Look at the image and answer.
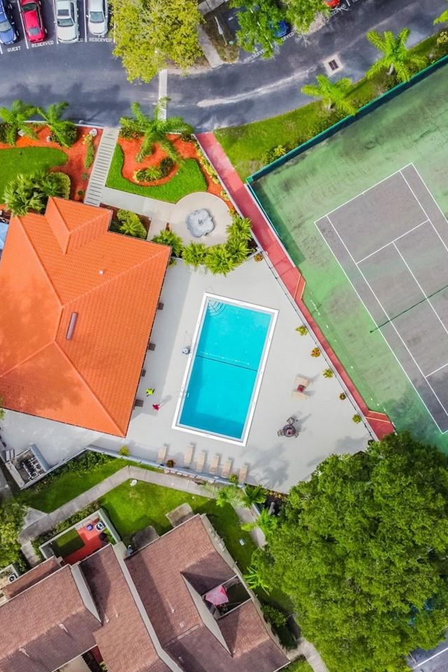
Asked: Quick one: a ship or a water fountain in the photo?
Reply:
water fountain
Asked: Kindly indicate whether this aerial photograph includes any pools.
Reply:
Yes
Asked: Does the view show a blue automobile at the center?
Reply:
No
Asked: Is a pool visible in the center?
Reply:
Yes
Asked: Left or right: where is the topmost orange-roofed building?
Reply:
left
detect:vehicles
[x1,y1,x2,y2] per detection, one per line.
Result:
[20,0,47,43]
[268,2,293,41]
[0,0,21,48]
[52,0,80,46]
[85,0,110,38]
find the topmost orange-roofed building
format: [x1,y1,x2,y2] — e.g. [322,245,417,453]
[0,195,172,439]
